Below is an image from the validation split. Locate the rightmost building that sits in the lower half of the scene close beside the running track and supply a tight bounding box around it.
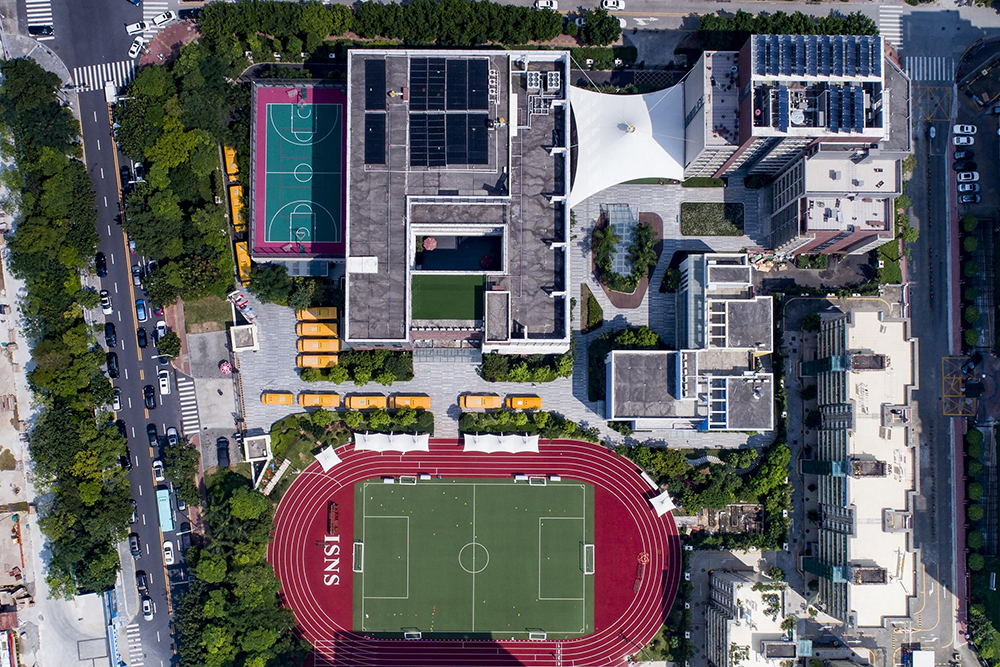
[800,308,920,629]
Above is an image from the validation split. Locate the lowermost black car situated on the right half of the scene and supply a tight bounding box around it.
[960,352,984,374]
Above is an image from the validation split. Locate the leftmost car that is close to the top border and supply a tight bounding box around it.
[29,24,54,37]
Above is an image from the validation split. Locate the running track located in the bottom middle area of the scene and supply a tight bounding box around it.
[268,440,681,667]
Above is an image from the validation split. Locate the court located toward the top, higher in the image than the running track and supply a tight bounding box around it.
[251,84,347,261]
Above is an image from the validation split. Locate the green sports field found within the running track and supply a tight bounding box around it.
[354,478,594,640]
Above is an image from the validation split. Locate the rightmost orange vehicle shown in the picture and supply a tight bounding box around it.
[509,395,540,410]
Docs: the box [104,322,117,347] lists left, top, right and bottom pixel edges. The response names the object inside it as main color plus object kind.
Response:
black vehicle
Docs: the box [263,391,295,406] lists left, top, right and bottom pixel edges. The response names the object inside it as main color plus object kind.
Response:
orange vehicle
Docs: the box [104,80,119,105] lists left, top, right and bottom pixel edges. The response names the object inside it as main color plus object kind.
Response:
white vehicle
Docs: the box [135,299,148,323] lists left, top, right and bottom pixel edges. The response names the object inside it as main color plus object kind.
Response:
blue vehicle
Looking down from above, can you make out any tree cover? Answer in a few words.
Yes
